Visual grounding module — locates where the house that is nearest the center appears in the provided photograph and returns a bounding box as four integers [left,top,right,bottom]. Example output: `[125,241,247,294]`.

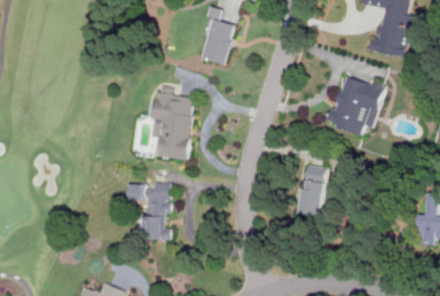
[150,86,194,162]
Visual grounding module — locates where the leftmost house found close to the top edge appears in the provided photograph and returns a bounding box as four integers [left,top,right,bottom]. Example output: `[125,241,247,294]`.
[201,6,236,65]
